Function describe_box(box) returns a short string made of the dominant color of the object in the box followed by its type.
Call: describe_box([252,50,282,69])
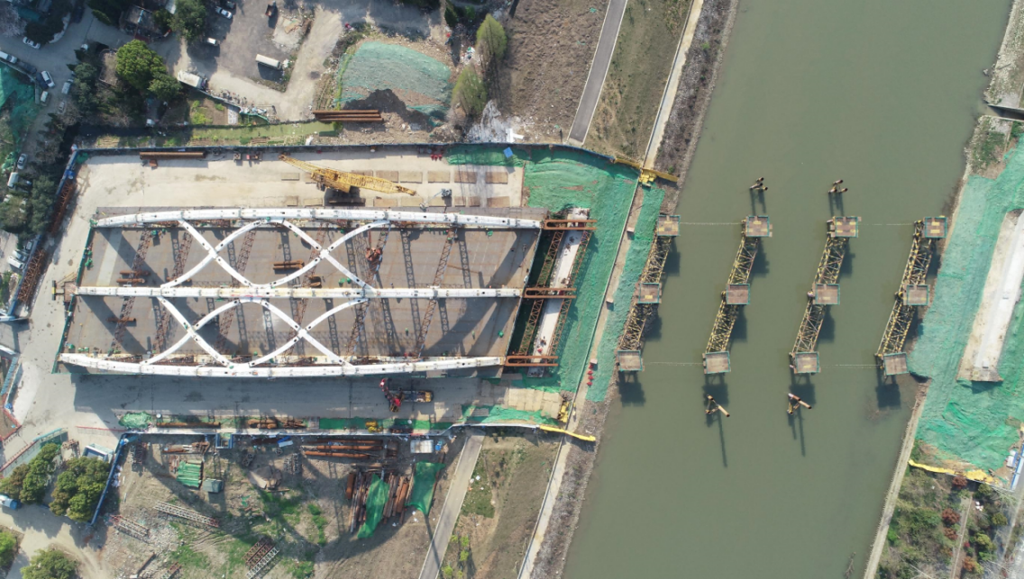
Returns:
white vehicle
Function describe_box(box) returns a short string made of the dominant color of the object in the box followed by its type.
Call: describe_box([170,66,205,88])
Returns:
white truck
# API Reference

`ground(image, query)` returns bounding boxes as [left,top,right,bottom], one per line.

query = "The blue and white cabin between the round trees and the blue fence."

[81,442,114,463]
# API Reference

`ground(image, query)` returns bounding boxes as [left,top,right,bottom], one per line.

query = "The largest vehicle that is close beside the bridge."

[380,377,430,416]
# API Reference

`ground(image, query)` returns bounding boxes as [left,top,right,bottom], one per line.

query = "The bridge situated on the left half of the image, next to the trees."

[50,208,553,376]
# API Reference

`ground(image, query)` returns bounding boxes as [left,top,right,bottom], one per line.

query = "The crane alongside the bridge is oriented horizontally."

[277,154,415,197]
